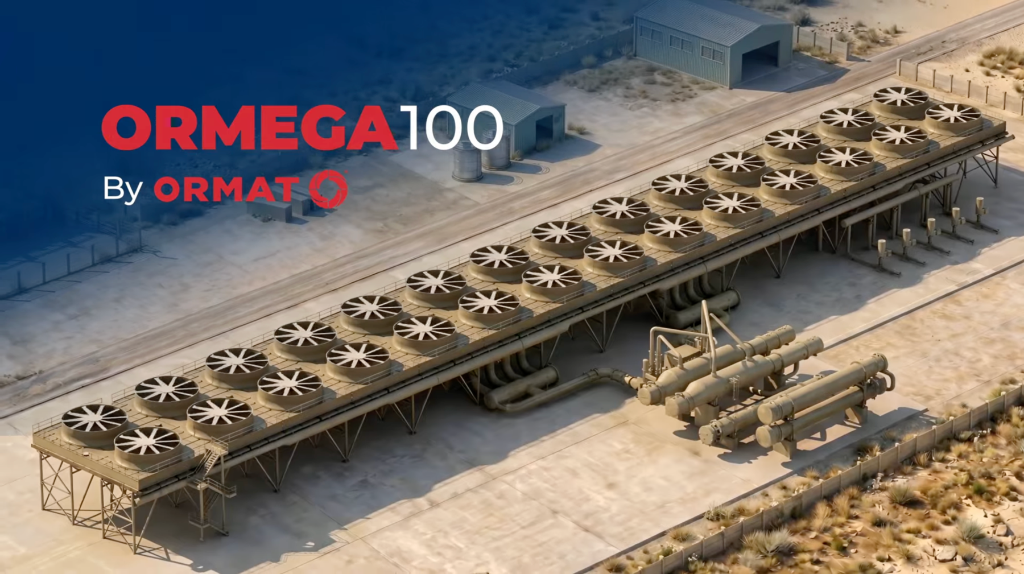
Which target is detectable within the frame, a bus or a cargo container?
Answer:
cargo container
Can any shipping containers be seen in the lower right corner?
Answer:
No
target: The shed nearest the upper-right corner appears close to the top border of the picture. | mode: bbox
[629,0,797,88]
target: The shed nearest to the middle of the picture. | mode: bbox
[446,82,566,158]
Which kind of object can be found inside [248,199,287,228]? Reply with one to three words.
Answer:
shipping container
